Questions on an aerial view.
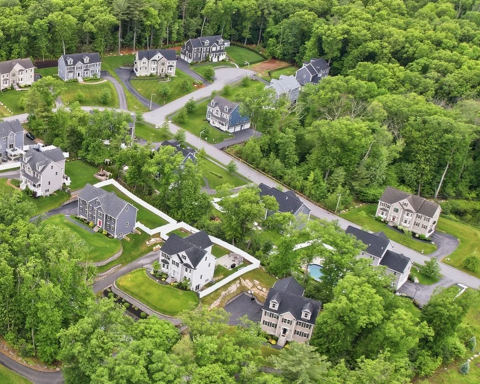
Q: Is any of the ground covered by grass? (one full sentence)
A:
Yes, grass can be seen from above here.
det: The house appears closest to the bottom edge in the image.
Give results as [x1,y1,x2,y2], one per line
[260,263,321,346]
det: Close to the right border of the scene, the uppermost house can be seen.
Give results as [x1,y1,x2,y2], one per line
[376,179,460,239]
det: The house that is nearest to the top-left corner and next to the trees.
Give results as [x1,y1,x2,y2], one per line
[0,56,35,92]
